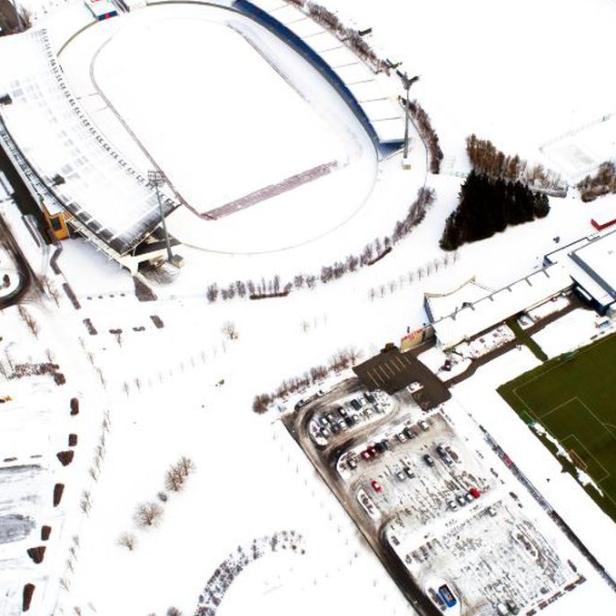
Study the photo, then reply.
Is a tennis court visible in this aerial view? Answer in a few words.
No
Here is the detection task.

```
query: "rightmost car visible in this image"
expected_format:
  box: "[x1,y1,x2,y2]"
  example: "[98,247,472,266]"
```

[536,583,551,598]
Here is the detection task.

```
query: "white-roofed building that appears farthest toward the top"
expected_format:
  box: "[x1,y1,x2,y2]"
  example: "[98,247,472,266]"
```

[85,0,119,21]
